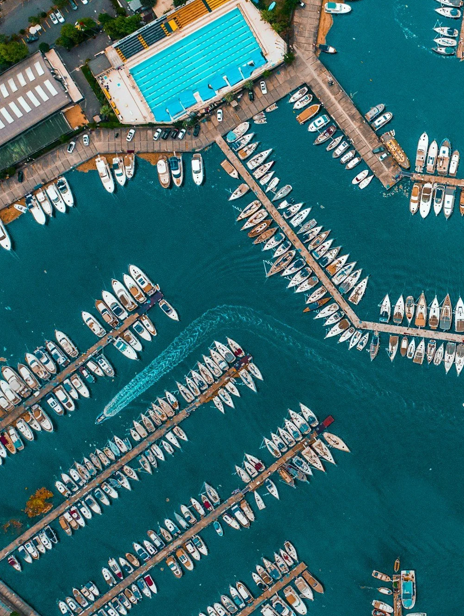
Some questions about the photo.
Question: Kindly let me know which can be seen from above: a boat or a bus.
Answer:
boat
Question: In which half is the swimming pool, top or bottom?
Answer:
top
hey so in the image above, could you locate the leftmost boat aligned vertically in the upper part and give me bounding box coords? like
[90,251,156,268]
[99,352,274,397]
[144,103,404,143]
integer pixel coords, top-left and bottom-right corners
[0,219,12,249]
